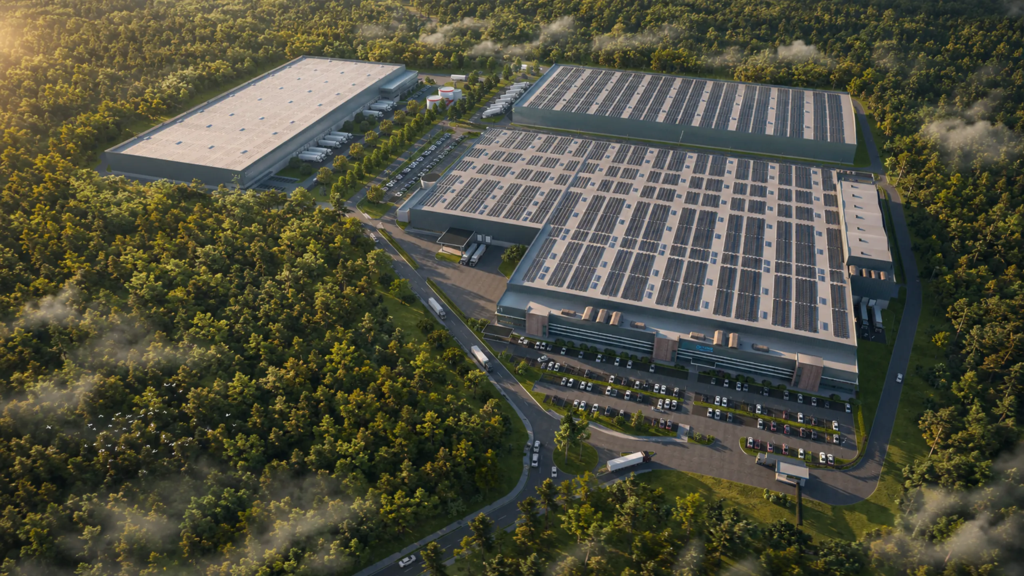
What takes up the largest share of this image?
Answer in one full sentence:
The bulk of the photo consists of trees.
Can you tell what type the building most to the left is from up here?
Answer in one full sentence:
In the photo, the building most to the left shows up as a warehouse.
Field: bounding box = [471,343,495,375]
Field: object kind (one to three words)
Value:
truck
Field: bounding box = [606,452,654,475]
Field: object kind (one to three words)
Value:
truck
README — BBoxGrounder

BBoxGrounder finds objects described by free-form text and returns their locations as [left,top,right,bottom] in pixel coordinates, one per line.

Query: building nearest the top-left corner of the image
[105,53,419,191]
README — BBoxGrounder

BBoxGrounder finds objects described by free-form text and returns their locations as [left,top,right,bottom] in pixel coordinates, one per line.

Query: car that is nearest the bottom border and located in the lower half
[399,554,416,567]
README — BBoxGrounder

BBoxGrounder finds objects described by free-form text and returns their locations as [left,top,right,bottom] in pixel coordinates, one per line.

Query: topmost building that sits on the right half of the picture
[513,63,858,164]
